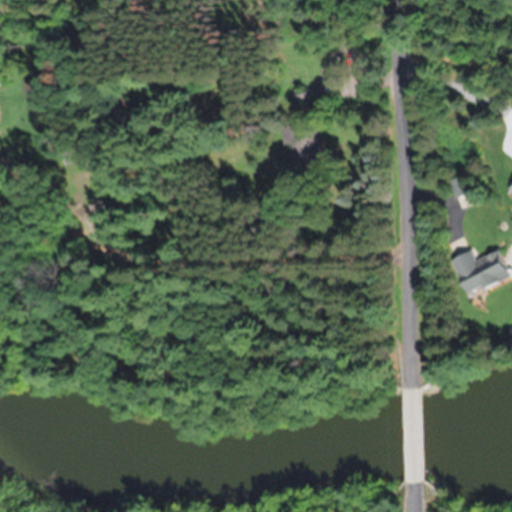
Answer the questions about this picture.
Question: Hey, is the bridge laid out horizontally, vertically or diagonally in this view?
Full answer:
In this picture, the bridge lies vertically.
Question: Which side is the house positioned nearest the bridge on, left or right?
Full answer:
It is on the right.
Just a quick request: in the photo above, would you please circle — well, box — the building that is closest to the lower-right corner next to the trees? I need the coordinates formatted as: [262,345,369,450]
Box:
[451,249,510,298]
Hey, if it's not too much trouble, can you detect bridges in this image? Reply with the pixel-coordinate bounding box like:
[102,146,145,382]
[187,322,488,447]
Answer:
[400,386,437,502]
